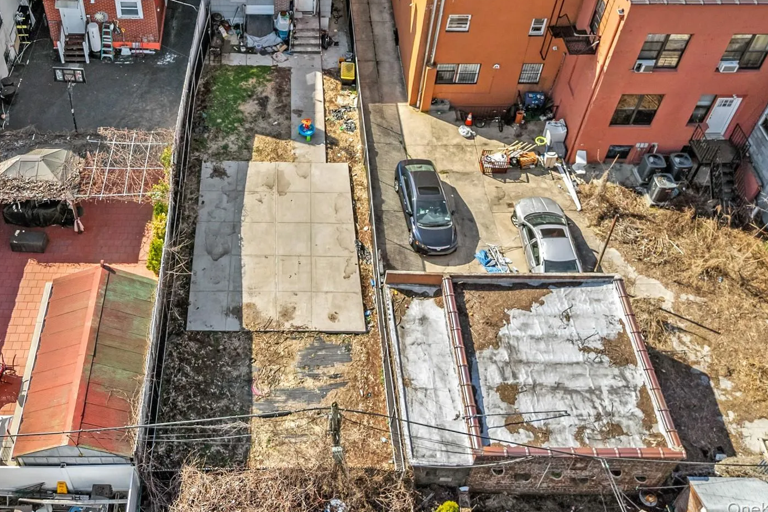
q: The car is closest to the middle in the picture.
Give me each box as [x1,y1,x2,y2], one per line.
[401,161,462,259]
